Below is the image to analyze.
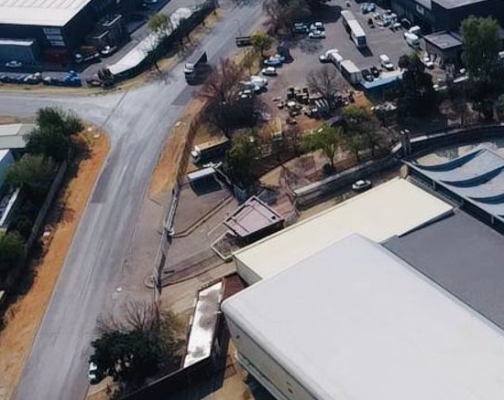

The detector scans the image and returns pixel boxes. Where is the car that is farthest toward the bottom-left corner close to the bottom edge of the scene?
[86,360,100,382]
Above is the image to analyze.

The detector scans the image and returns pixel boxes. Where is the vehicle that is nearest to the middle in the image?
[188,136,231,162]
